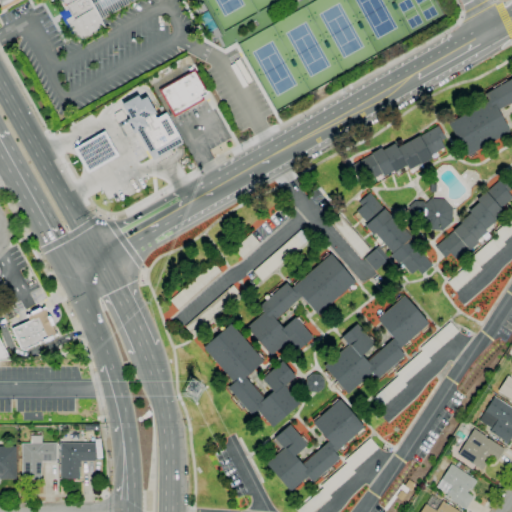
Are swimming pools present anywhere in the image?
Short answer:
Yes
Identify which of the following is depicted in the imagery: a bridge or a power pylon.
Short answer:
power pylon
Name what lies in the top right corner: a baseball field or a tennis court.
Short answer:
tennis court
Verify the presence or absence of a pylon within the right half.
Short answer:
No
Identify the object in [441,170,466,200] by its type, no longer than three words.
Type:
swimming pool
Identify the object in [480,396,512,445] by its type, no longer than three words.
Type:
house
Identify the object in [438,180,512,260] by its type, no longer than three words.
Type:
building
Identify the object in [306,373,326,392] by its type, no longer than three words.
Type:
gazebo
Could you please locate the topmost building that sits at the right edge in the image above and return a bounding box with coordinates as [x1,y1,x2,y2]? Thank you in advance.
[452,80,512,154]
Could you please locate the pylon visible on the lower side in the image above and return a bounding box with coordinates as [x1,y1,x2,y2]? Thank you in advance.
[183,376,207,404]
